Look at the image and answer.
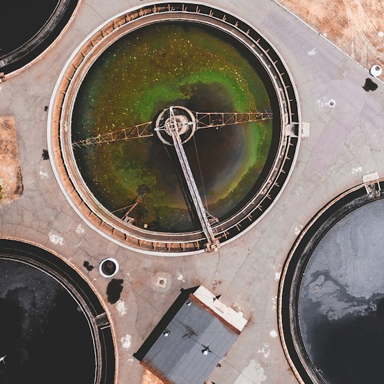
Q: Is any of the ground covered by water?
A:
Yes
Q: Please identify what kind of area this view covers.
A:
industrial area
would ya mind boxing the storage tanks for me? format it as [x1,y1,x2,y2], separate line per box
[0,236,122,384]
[0,0,85,83]
[279,177,384,384]
[48,1,302,254]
